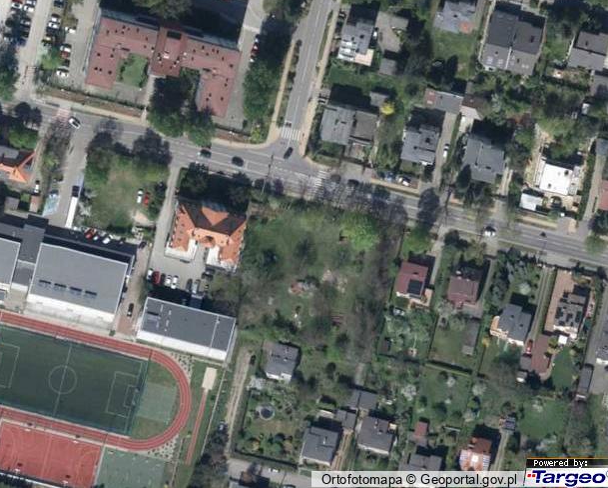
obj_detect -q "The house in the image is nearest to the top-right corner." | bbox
[567,32,608,75]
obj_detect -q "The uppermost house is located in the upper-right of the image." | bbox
[433,1,477,39]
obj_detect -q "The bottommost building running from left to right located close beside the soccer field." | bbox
[138,297,235,358]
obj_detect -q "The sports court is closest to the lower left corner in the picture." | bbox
[0,418,104,488]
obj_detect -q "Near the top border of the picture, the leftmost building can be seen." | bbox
[85,16,241,128]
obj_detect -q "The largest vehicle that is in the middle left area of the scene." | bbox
[66,193,78,228]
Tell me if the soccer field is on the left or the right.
left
